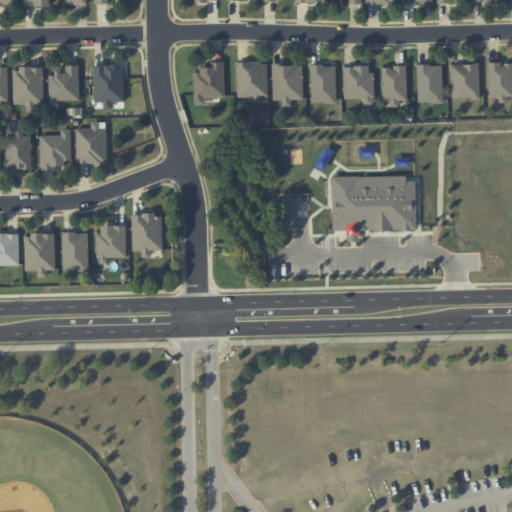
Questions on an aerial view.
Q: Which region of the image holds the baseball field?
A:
bottom left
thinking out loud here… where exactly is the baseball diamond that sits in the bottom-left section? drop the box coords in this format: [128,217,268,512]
[0,416,124,512]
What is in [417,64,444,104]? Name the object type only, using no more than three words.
house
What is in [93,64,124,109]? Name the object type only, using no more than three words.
house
